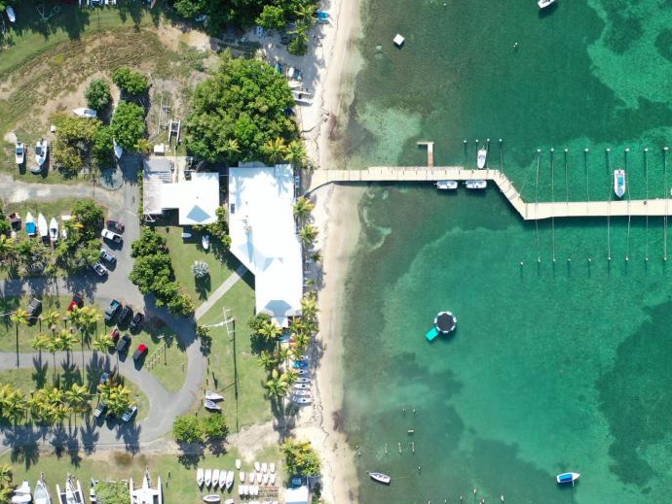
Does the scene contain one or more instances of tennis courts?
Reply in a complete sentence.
No, no tennis court is visible in the scene.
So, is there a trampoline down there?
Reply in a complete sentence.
Yes, the photo shows a trampoline.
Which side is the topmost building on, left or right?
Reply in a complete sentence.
The topmost building appears in the left half of the scene.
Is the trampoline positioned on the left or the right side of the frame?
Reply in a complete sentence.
The trampoline appears in the right half of the scene.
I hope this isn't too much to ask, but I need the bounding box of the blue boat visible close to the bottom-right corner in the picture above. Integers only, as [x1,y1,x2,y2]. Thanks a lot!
[556,474,578,488]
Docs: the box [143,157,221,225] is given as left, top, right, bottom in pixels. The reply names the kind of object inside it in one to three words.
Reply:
building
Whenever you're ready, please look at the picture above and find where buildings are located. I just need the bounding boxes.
[143,157,221,225]
[228,162,302,327]
[285,477,321,504]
